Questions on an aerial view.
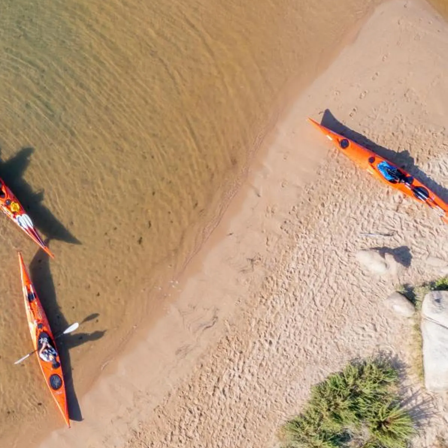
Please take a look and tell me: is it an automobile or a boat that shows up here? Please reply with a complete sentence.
Of the two, only a boat appears.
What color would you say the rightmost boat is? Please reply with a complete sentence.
The rightmost boat is orange.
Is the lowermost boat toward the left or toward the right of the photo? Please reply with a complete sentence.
You can find the lowermost boat on the left side of the picture.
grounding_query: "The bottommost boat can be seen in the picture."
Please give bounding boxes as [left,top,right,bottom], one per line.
[18,252,69,428]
